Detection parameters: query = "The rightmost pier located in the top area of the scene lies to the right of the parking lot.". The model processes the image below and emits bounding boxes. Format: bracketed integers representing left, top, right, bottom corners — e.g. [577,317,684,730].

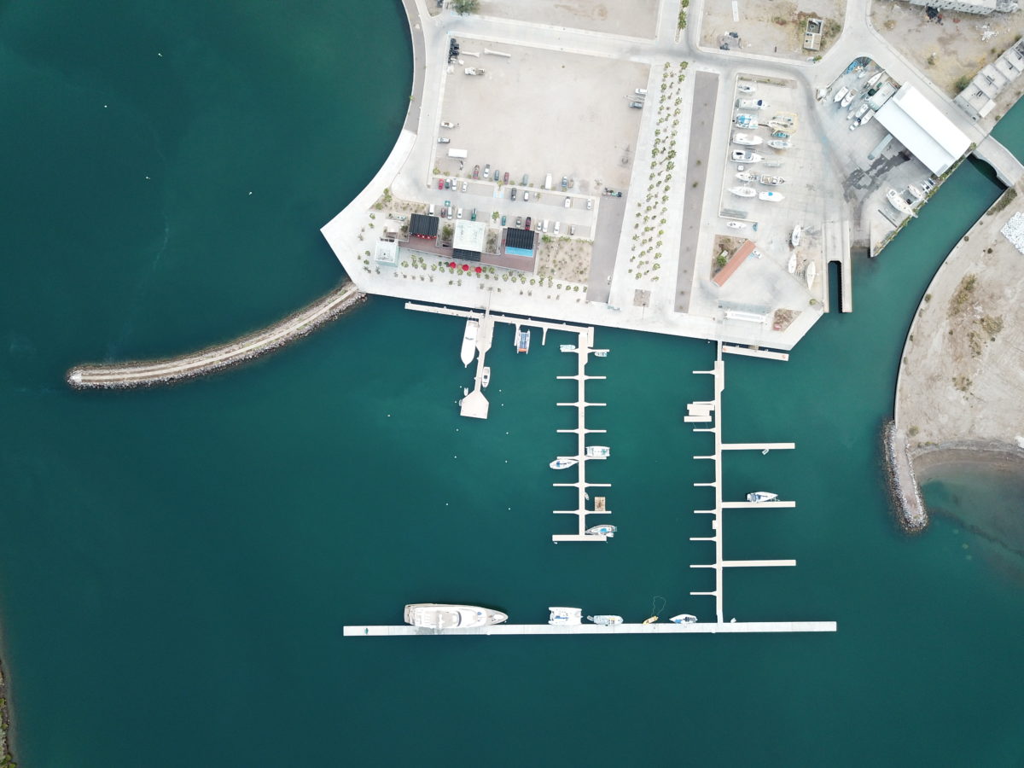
[822,205,852,313]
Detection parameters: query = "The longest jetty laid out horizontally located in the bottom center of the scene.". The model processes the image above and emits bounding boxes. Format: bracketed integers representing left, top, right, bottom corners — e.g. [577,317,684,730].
[344,621,836,636]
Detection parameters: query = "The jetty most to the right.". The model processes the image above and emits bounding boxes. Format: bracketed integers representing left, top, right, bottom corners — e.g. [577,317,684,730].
[883,422,929,530]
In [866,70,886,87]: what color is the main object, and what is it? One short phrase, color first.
white boat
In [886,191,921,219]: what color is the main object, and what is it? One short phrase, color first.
white boat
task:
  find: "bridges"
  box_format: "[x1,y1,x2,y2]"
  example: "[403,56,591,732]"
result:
[968,134,1024,189]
